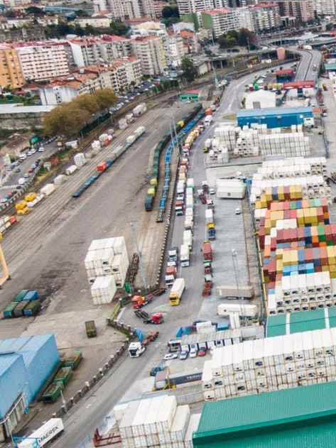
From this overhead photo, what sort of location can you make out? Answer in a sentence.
What you see here is a rail yard.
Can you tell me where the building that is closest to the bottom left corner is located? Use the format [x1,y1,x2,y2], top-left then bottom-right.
[0,331,58,444]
